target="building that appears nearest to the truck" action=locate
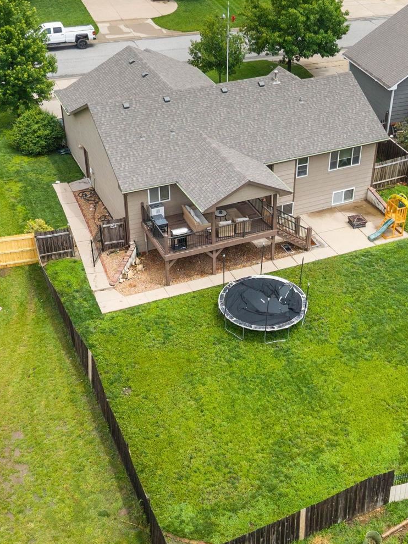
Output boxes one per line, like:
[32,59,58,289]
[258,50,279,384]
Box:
[49,48,389,249]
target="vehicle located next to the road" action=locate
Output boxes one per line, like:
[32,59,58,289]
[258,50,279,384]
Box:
[29,22,92,52]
